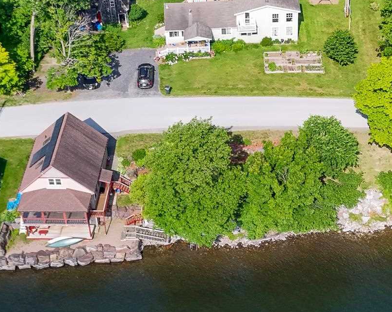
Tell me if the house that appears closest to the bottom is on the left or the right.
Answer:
left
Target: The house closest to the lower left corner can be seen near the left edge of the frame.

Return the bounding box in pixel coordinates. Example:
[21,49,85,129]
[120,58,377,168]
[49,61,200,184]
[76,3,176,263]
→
[15,111,115,246]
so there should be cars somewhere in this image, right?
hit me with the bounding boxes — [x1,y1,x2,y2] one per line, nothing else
[136,60,155,86]
[82,61,99,85]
